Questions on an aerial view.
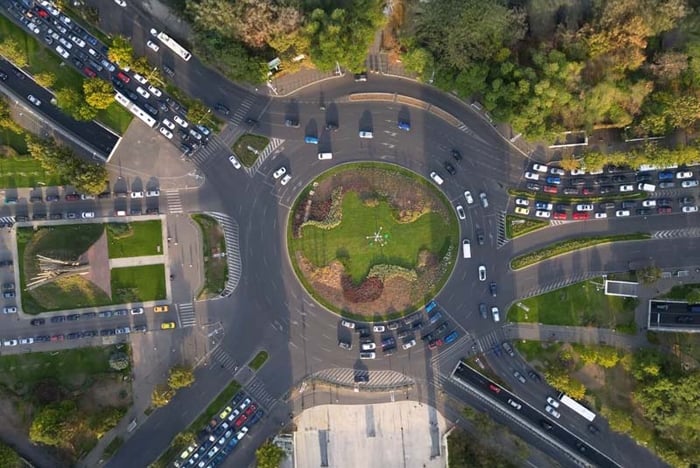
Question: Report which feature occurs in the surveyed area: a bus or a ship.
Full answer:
The image shows a bus.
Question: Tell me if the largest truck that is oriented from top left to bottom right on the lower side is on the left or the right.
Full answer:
It is on the right.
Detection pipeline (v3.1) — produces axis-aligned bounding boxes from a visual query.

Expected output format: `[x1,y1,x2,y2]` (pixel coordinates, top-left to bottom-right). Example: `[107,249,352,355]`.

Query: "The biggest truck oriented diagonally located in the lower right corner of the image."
[554,392,599,424]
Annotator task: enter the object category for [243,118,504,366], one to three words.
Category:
roundabout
